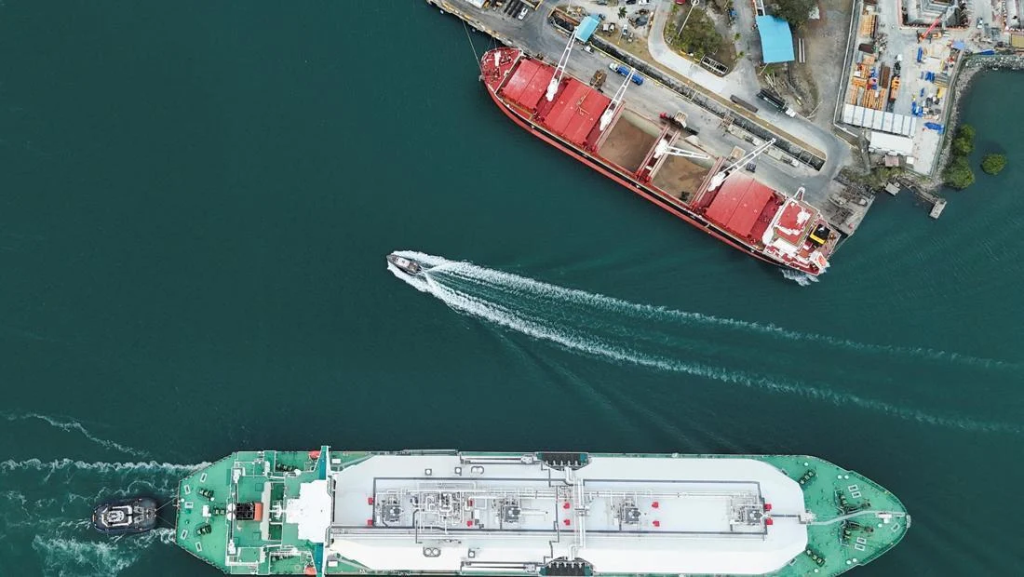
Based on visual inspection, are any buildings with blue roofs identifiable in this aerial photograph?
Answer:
Yes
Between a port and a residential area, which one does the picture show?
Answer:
port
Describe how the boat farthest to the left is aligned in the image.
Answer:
from side to side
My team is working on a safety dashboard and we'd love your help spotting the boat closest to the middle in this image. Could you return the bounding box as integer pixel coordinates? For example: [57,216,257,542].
[388,254,423,276]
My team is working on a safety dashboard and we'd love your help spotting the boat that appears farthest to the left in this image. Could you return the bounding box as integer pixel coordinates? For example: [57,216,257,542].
[89,498,161,534]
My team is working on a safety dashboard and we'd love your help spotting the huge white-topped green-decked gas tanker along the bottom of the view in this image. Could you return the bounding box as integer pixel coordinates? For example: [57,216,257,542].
[171,446,912,577]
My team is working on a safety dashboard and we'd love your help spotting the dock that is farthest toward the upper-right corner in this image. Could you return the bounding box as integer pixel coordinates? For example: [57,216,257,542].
[897,180,947,218]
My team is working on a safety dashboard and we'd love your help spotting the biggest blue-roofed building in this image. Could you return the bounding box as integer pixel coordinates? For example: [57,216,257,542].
[753,16,794,67]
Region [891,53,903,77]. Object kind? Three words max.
vehicle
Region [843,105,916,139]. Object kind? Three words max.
shed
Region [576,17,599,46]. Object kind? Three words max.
shed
